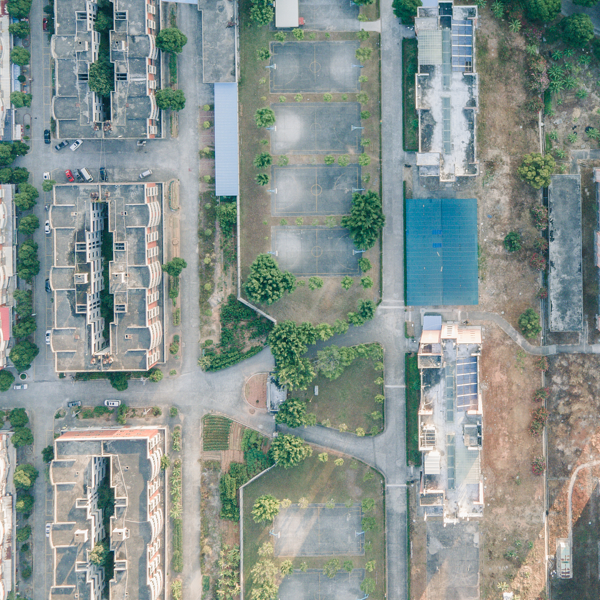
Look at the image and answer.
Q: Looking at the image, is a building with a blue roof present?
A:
Yes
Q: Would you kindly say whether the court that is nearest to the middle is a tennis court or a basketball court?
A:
basketball court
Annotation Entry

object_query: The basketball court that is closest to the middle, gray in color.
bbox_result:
[271,225,362,277]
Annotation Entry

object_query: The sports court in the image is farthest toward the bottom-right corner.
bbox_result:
[427,521,482,600]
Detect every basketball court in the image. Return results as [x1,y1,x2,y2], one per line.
[273,503,364,558]
[271,225,362,277]
[270,0,361,33]
[270,102,362,155]
[270,41,361,94]
[278,568,366,600]
[271,164,362,217]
